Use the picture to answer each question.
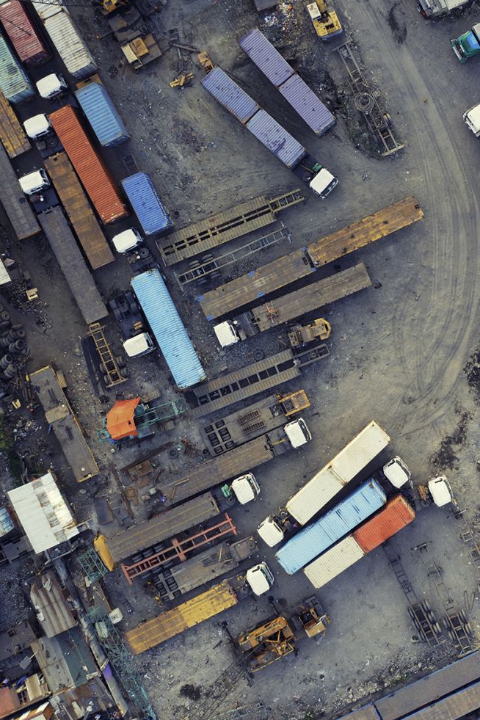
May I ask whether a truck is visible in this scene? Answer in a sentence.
Yes, a truck is visible in the scene.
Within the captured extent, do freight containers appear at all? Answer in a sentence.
Yes, there's a freight container down there.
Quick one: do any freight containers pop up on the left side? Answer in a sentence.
Yes, there is a freight container on the left side.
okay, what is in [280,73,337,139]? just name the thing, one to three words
shipping container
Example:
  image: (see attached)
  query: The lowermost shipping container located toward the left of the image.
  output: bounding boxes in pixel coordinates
[133,268,210,390]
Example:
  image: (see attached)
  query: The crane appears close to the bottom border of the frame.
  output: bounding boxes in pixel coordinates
[176,594,326,720]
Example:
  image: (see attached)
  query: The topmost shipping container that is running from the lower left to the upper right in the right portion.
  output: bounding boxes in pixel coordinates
[331,416,391,480]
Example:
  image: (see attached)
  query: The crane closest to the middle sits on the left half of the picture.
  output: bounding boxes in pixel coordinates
[97,397,190,444]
